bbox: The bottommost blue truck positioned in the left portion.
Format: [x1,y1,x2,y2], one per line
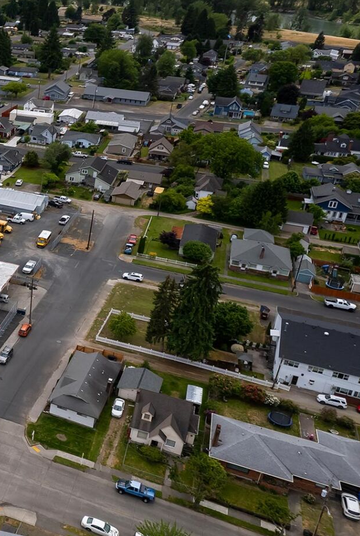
[116,481,156,504]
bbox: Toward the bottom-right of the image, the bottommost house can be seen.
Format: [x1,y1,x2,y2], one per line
[210,415,360,497]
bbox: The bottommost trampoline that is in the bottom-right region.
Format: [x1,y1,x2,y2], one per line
[267,411,294,429]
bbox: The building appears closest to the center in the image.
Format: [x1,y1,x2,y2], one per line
[178,221,222,259]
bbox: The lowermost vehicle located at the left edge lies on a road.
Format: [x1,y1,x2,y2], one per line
[0,347,15,363]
